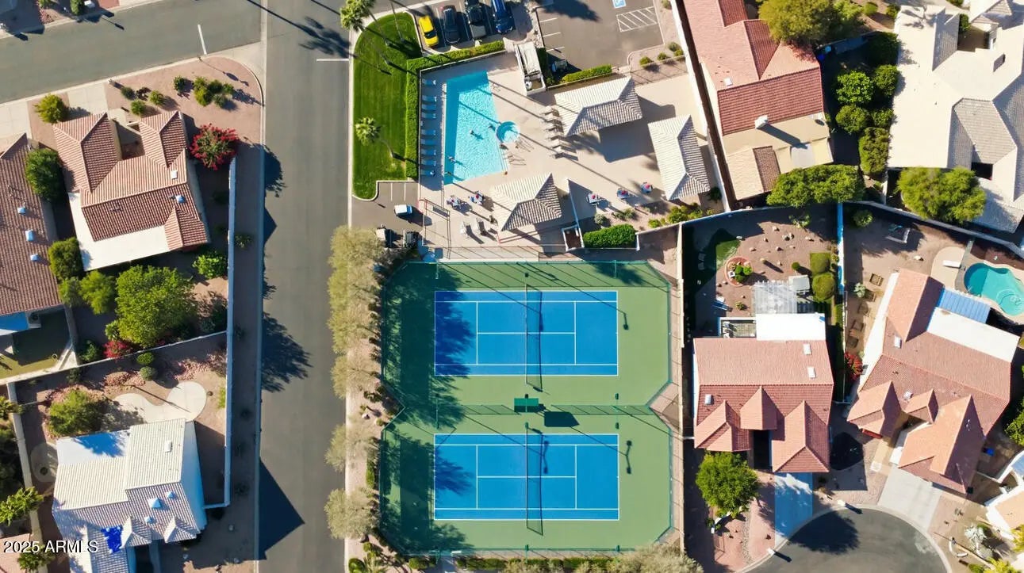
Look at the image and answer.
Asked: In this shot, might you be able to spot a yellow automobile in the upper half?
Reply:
Yes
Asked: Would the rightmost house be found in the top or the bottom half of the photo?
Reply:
bottom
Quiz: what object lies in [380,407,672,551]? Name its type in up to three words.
tennis court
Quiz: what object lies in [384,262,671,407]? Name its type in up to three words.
tennis court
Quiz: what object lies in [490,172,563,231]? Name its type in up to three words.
building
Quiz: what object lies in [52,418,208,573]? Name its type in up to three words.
house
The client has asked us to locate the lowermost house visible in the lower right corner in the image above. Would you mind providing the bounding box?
[974,443,1024,530]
